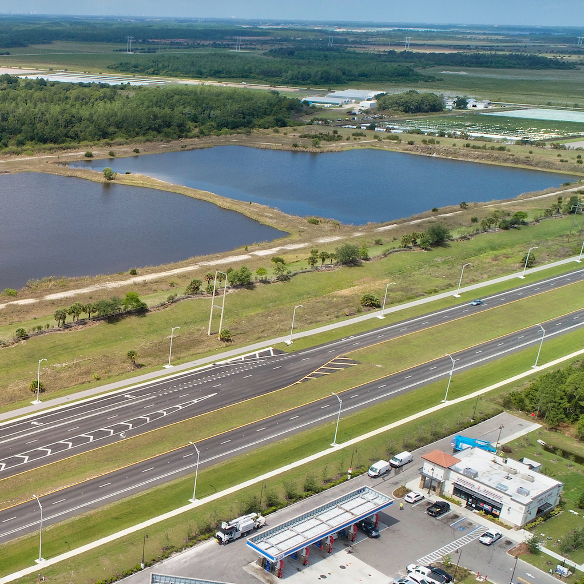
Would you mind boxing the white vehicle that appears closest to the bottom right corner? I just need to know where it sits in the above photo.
[479,527,506,543]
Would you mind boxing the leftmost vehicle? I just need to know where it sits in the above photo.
[218,513,257,543]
